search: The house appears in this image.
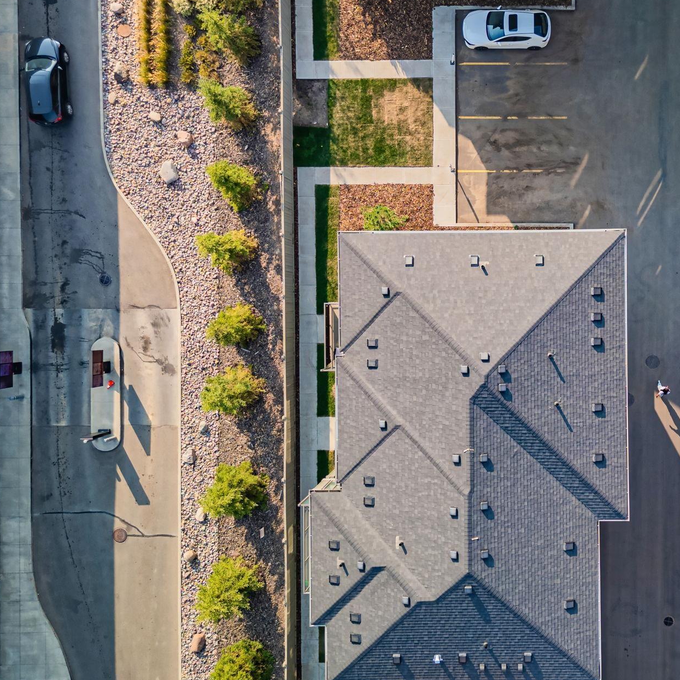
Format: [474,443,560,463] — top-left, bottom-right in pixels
[293,226,632,680]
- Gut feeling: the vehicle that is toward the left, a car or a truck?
car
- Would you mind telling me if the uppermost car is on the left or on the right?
right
